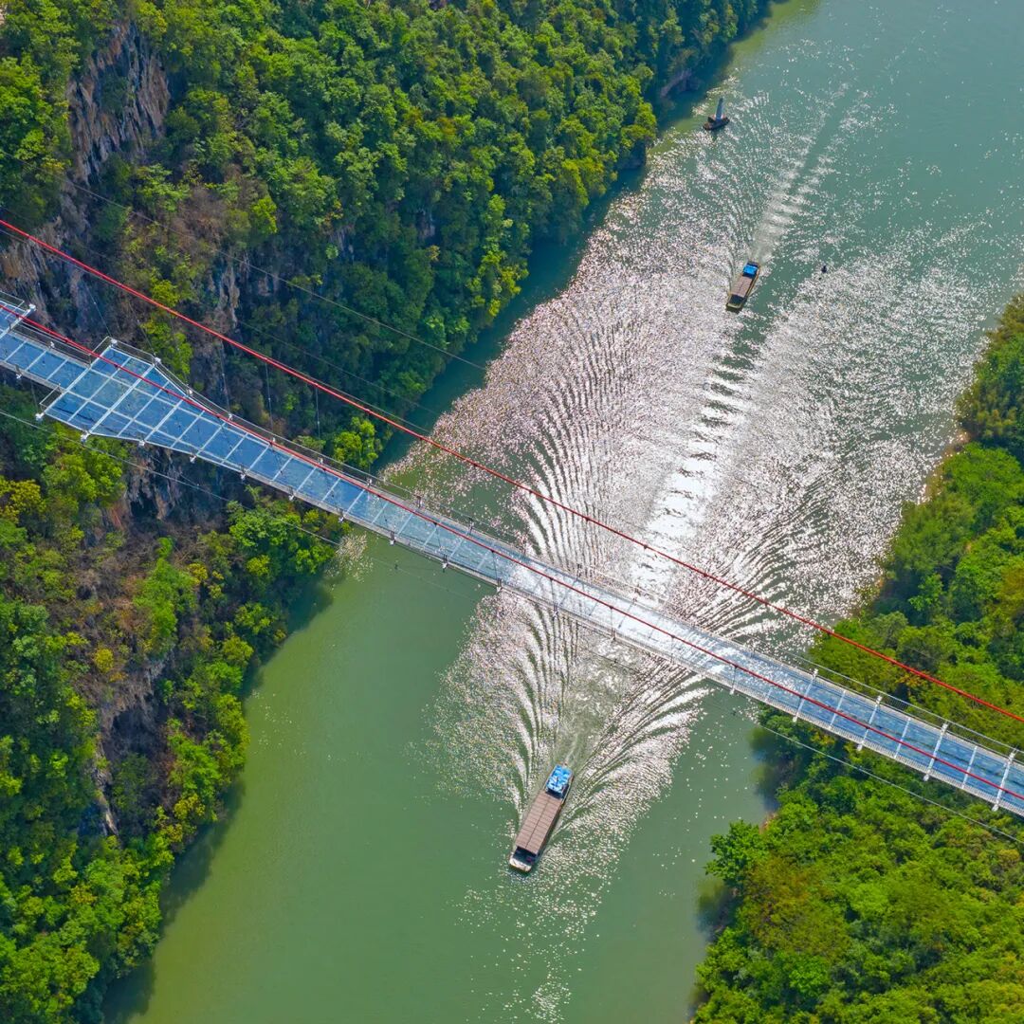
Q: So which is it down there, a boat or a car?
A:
boat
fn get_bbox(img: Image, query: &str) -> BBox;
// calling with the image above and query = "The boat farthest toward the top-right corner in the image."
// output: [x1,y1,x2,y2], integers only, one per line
[706,100,732,128]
